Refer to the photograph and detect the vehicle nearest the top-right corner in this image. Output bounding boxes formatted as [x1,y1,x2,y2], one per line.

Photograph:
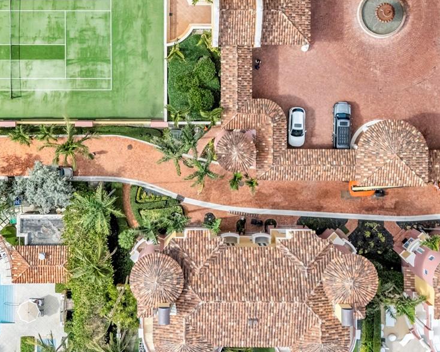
[332,101,352,148]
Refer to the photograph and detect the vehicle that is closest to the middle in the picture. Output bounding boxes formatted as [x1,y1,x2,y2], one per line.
[288,105,306,146]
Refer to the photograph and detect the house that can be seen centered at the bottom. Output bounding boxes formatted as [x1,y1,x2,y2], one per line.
[128,219,375,352]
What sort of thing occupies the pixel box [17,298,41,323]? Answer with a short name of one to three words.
umbrella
